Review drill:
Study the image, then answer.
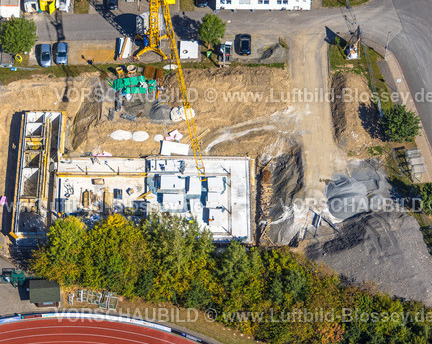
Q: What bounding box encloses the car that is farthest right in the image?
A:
[239,30,253,55]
